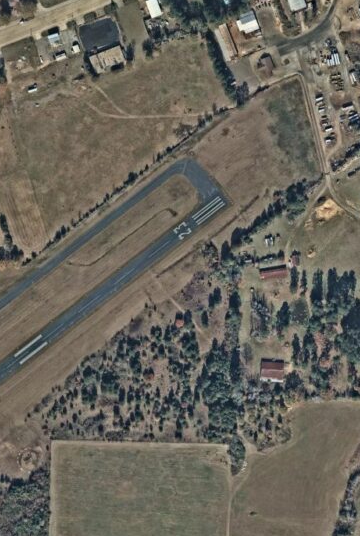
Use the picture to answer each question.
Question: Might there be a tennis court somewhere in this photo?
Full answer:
No, there appears to be no tennis court in this shot.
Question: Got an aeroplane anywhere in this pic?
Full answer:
No, there appears to be no aeroplane in this shot.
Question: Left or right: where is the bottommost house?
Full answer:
It is on the right.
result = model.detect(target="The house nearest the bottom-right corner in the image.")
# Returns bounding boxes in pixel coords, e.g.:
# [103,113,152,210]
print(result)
[260,361,284,381]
